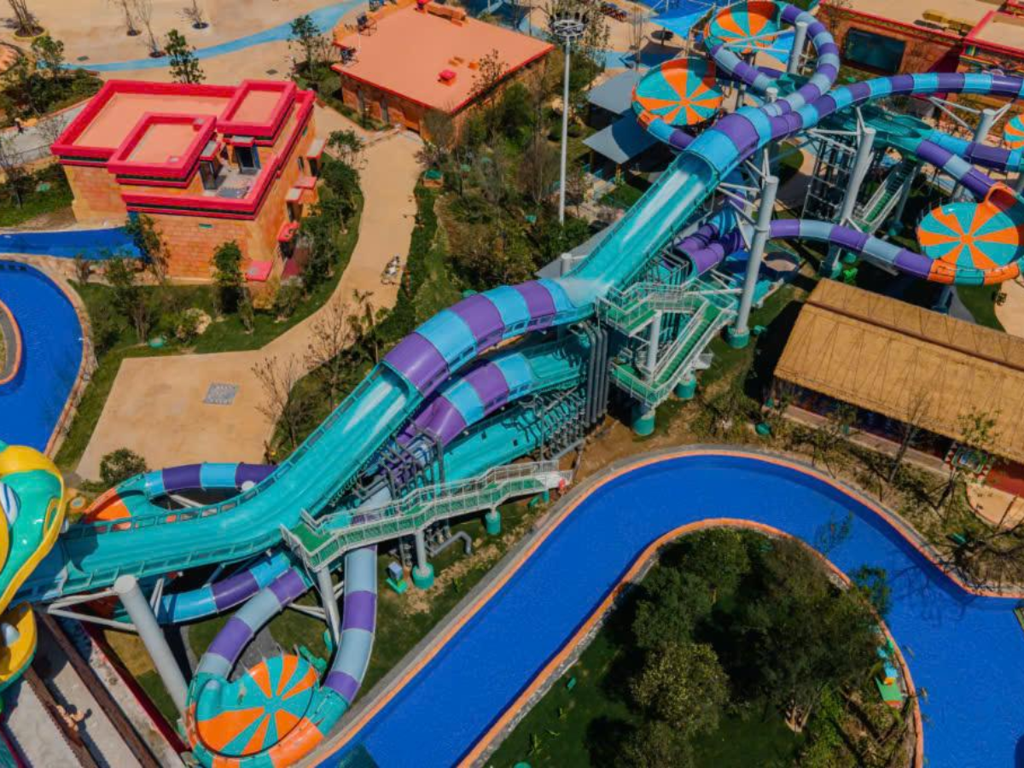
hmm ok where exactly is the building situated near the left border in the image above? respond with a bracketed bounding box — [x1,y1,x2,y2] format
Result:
[45,80,332,295]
